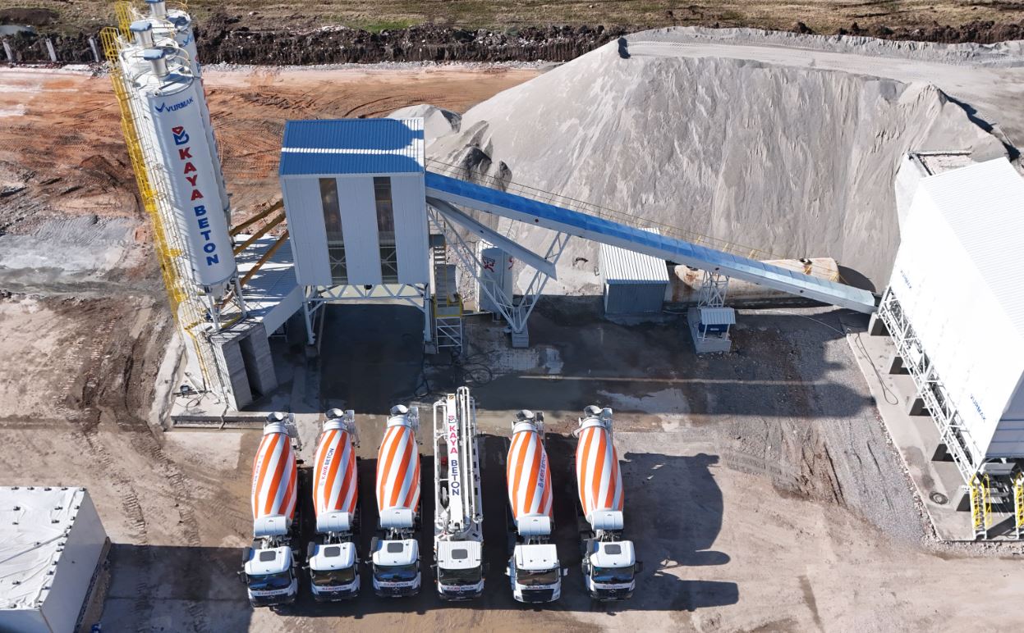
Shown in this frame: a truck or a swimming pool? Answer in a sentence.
This aerial view contains a truck.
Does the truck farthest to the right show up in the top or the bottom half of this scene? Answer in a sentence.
You can find the truck farthest to the right in the bottom half.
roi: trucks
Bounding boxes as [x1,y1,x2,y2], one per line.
[359,408,430,594]
[571,411,649,599]
[295,411,367,599]
[231,416,306,605]
[502,412,572,600]
[423,389,493,597]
